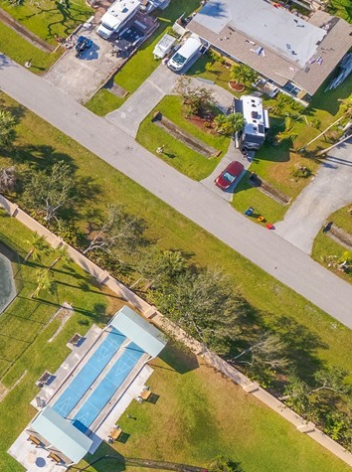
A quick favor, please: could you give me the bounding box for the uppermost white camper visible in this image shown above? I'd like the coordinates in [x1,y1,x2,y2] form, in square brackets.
[98,0,142,39]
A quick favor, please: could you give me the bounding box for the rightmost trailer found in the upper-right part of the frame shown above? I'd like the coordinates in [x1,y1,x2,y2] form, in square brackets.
[237,92,275,163]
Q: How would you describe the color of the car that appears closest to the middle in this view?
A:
red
